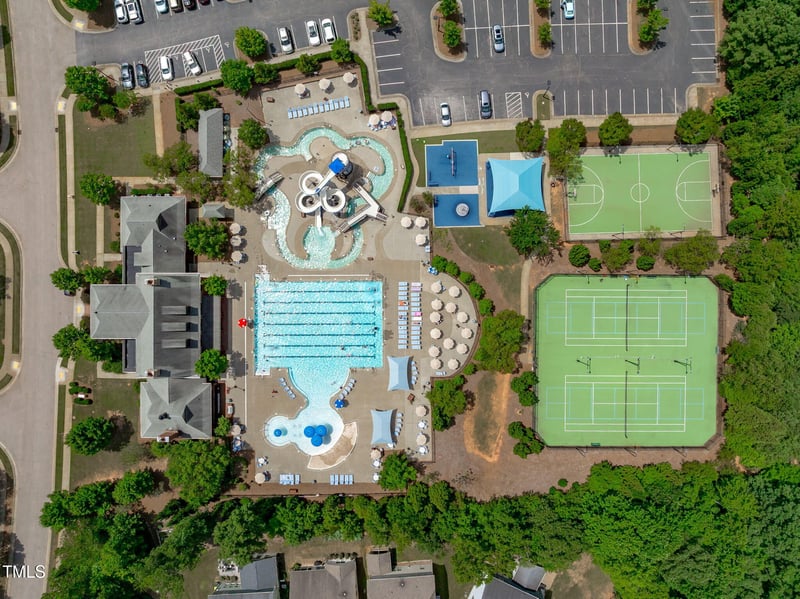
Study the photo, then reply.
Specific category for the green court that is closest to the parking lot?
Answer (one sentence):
The green court that is closest to the parking lot in the image is a basketball court.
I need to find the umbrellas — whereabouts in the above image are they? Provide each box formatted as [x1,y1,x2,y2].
[371,449,381,459]
[344,73,354,84]
[430,312,441,322]
[449,287,459,297]
[402,217,411,227]
[232,251,242,262]
[431,329,441,338]
[448,358,459,368]
[231,425,241,434]
[381,112,391,122]
[445,302,455,312]
[370,116,379,126]
[457,344,467,354]
[416,217,425,227]
[432,359,441,369]
[230,223,241,234]
[430,346,440,356]
[444,338,453,348]
[432,299,441,309]
[430,282,441,292]
[320,80,330,90]
[416,235,426,244]
[231,237,241,246]
[295,84,305,94]
[416,406,426,416]
[255,472,266,482]
[458,312,468,322]
[416,434,426,444]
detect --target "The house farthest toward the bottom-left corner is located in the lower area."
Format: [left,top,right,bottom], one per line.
[208,547,282,599]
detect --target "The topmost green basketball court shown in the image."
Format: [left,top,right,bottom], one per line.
[565,147,723,240]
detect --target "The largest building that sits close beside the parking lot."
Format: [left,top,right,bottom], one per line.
[89,197,226,444]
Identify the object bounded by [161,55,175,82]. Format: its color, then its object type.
white car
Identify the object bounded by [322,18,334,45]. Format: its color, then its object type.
white vehicle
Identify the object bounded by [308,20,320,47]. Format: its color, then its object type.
white vehicle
